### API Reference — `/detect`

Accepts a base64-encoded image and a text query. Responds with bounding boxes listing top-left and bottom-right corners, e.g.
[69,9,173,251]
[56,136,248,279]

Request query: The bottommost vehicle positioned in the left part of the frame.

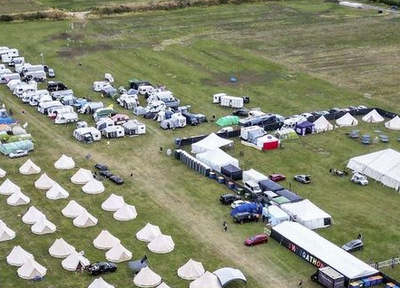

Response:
[87,259,114,273]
